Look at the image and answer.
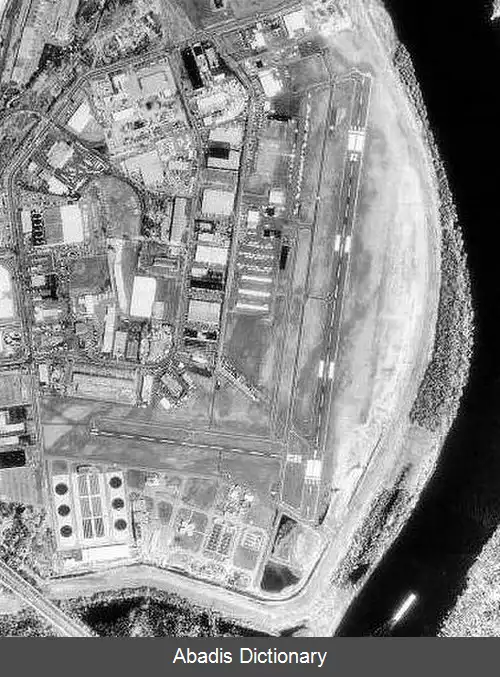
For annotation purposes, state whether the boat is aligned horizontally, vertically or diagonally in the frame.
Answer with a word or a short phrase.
diagonally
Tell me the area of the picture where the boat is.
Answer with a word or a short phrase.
bottom right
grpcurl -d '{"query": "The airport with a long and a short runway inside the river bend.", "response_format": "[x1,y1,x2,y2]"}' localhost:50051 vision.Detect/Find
[91,56,374,522]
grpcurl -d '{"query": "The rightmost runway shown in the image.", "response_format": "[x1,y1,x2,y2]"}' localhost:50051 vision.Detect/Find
[298,73,374,522]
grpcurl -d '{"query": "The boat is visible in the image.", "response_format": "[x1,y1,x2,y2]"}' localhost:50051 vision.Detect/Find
[391,595,413,623]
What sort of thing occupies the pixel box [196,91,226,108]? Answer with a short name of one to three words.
building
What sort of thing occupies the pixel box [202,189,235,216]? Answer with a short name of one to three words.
hangar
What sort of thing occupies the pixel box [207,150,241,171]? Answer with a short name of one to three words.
hangar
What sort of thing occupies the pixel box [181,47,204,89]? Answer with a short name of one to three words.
building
